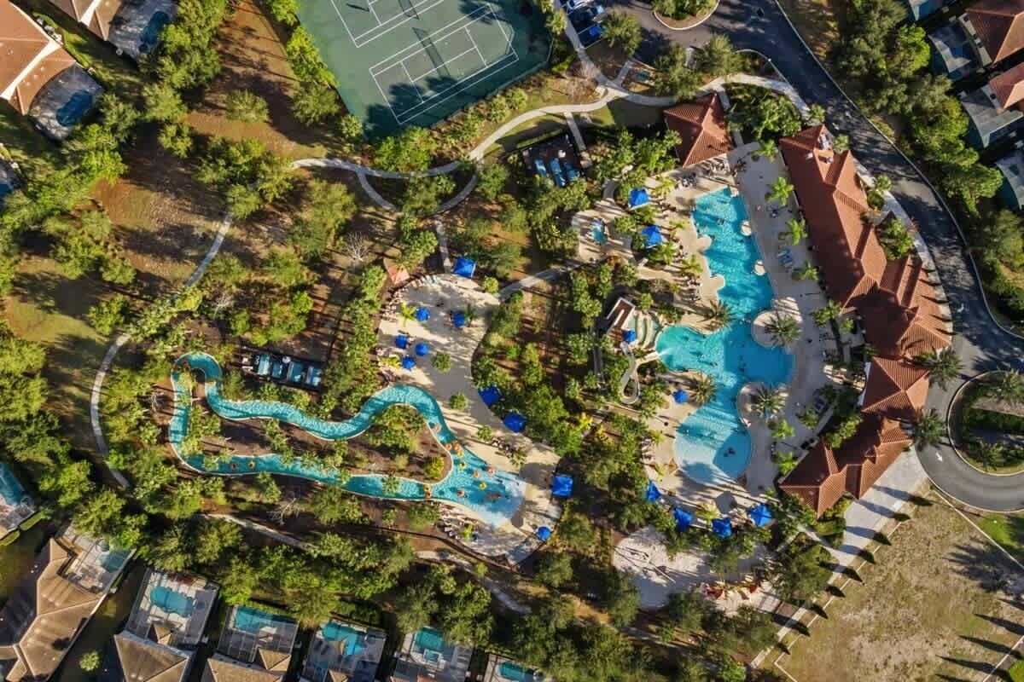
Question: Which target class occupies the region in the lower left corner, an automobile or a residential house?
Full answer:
Visible in the lower left corner is a residential house.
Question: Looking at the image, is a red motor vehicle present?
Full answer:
No, no red motor vehicle can be seen from above.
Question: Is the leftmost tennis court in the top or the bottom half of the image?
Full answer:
The leftmost tennis court is in the top half of the image.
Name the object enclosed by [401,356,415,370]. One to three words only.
umbrella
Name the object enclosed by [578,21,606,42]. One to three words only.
car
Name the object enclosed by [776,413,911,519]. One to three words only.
building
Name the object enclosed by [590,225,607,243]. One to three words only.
swimming pool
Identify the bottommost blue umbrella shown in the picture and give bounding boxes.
[536,526,551,540]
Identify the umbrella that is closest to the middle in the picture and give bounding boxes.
[453,312,466,326]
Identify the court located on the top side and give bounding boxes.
[300,0,552,139]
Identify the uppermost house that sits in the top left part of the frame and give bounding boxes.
[49,0,132,42]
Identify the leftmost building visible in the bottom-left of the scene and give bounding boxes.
[0,539,109,682]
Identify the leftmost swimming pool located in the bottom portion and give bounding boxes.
[0,463,24,504]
